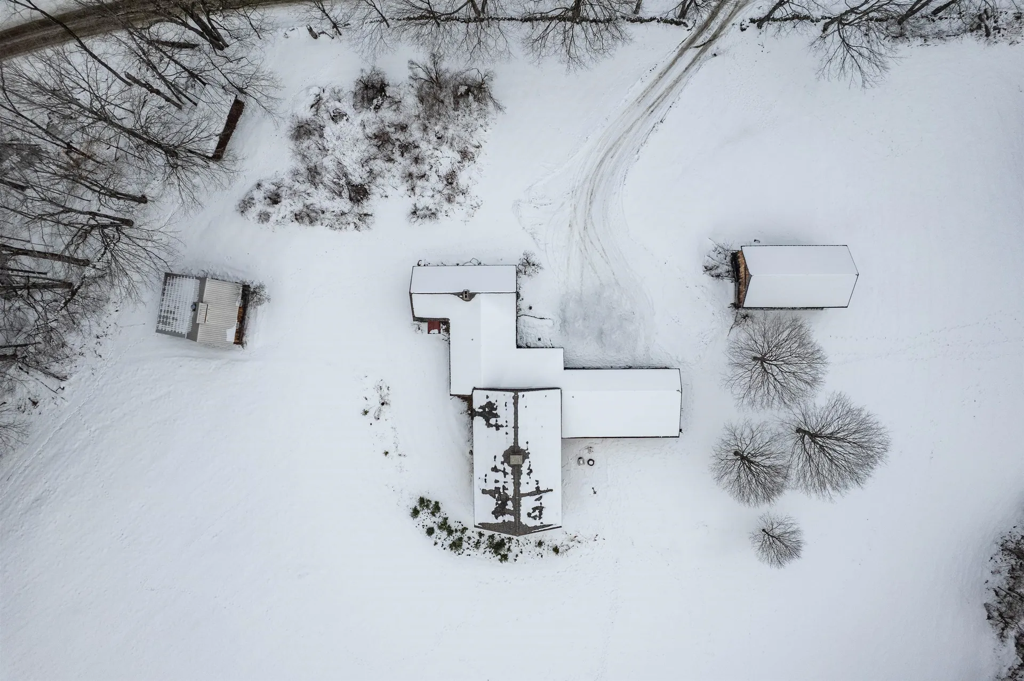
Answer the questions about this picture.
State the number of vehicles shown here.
0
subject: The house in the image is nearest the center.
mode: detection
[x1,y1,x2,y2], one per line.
[409,264,685,536]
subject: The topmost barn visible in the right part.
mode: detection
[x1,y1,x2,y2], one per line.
[735,245,859,309]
